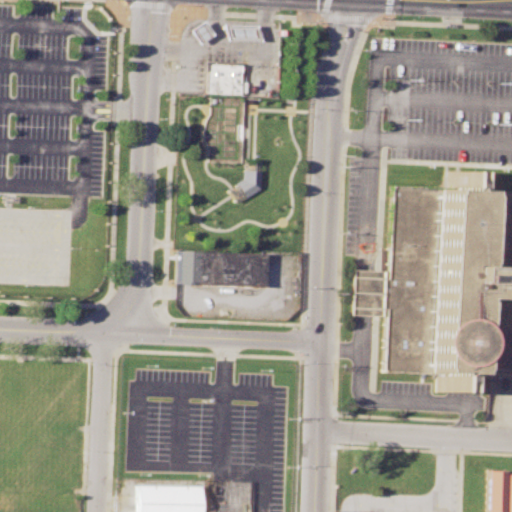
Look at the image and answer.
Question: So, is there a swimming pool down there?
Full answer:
No, I can't see a single swimming pool in this photo.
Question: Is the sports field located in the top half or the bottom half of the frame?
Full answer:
The sports field is in the bottom half of the image.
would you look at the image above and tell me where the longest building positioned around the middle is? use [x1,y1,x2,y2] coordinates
[164,251,274,288]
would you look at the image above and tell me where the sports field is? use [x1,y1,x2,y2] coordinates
[0,360,86,512]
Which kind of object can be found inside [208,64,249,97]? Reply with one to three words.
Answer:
building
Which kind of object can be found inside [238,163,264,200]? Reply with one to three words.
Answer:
building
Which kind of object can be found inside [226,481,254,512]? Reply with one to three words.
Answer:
shed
